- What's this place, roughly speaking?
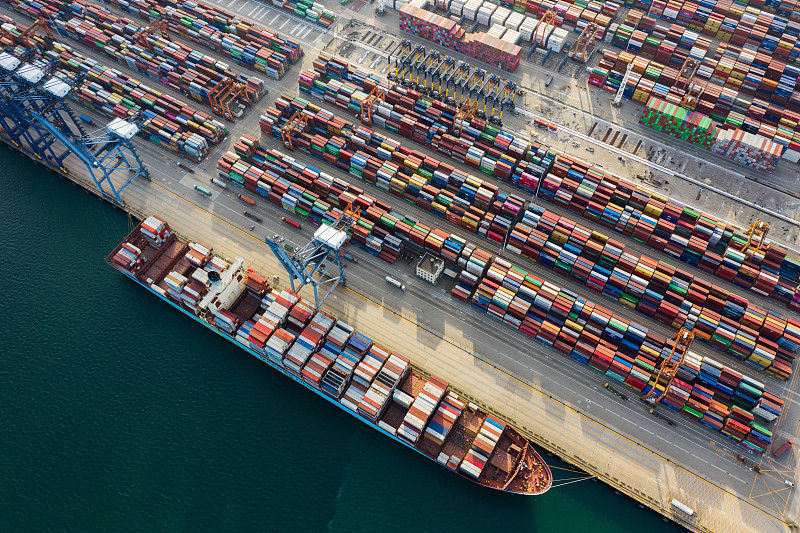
port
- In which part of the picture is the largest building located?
center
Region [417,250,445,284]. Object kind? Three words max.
building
